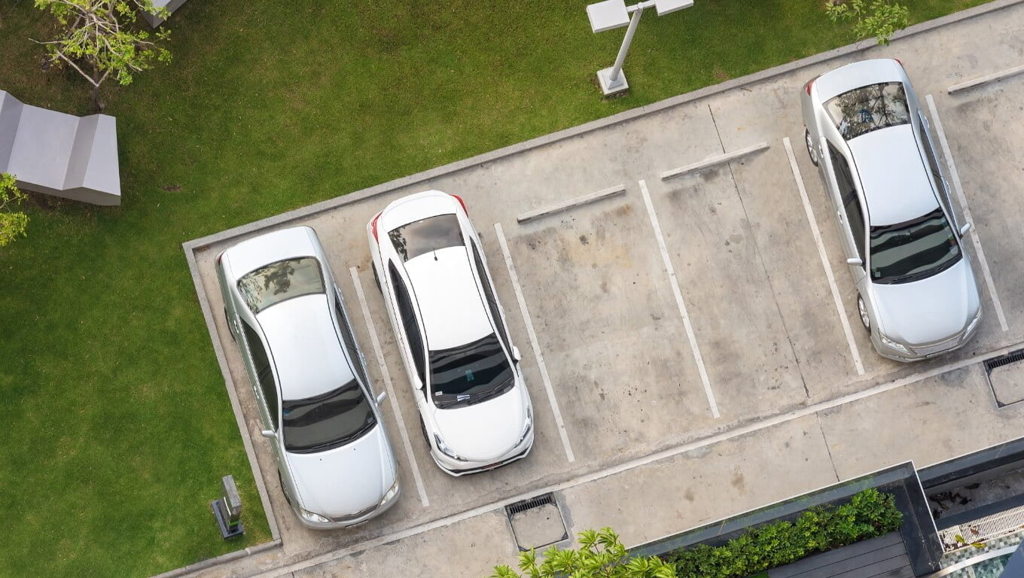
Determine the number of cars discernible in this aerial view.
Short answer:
3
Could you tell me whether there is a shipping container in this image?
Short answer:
No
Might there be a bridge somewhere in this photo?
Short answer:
No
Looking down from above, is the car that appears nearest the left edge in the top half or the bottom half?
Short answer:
bottom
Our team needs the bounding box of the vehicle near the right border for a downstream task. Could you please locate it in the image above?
[802,55,982,365]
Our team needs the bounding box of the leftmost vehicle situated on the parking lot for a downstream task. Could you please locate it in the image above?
[219,224,398,532]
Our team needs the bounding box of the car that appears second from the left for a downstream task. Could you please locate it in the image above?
[370,191,534,477]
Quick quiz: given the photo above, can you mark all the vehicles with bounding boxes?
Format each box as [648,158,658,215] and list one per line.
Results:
[219,224,398,532]
[802,55,982,365]
[370,191,534,477]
